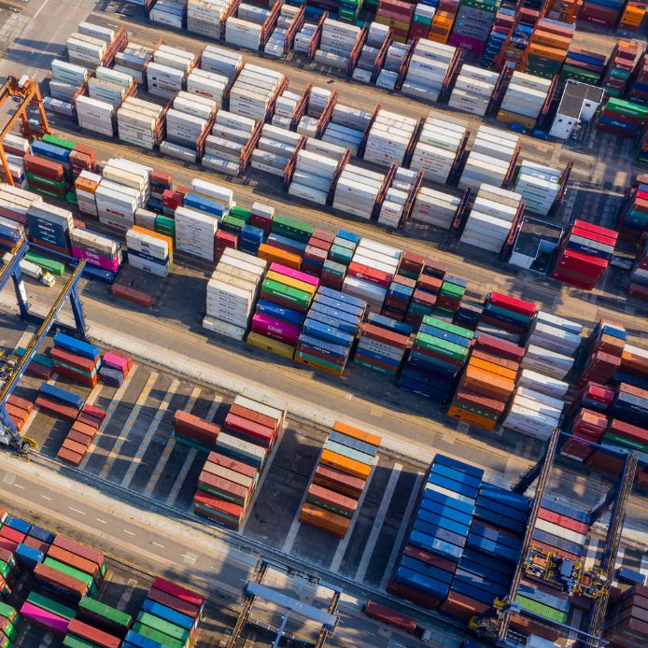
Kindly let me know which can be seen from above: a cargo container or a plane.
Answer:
cargo container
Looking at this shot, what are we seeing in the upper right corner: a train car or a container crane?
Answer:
container crane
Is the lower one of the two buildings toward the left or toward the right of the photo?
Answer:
right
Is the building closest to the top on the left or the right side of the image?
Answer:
right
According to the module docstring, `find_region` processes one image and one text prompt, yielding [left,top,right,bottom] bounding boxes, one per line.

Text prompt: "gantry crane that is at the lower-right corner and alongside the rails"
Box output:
[466,425,638,648]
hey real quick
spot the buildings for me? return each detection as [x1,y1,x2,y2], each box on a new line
[509,217,563,269]
[549,79,605,141]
